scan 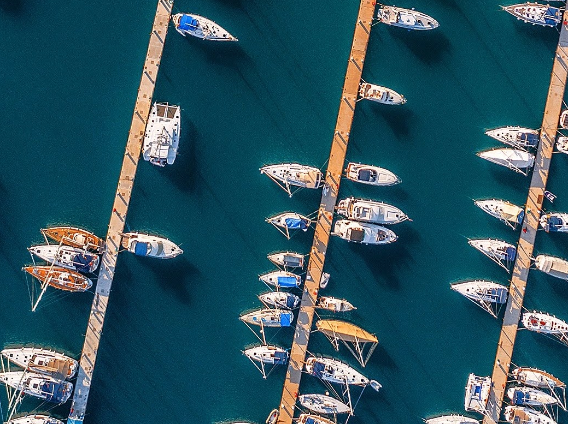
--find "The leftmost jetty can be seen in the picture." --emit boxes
[72,0,174,424]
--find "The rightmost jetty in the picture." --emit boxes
[483,2,568,424]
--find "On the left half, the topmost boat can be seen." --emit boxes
[163,6,239,42]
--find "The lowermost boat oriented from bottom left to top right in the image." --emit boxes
[265,409,278,424]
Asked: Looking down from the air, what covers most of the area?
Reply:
water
